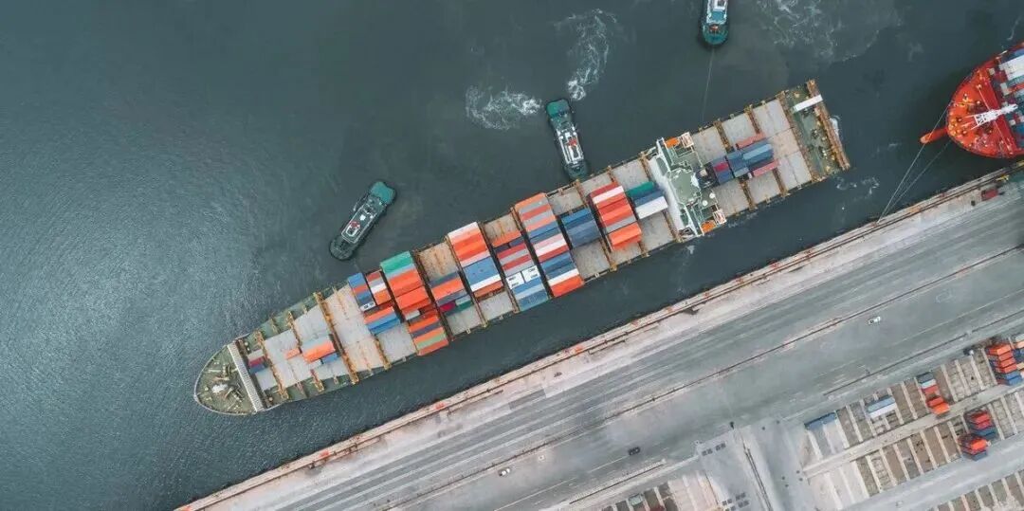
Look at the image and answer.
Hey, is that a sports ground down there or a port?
port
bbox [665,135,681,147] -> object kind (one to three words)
boat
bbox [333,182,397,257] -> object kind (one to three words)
boat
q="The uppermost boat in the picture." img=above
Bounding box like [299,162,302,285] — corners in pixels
[700,0,732,44]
